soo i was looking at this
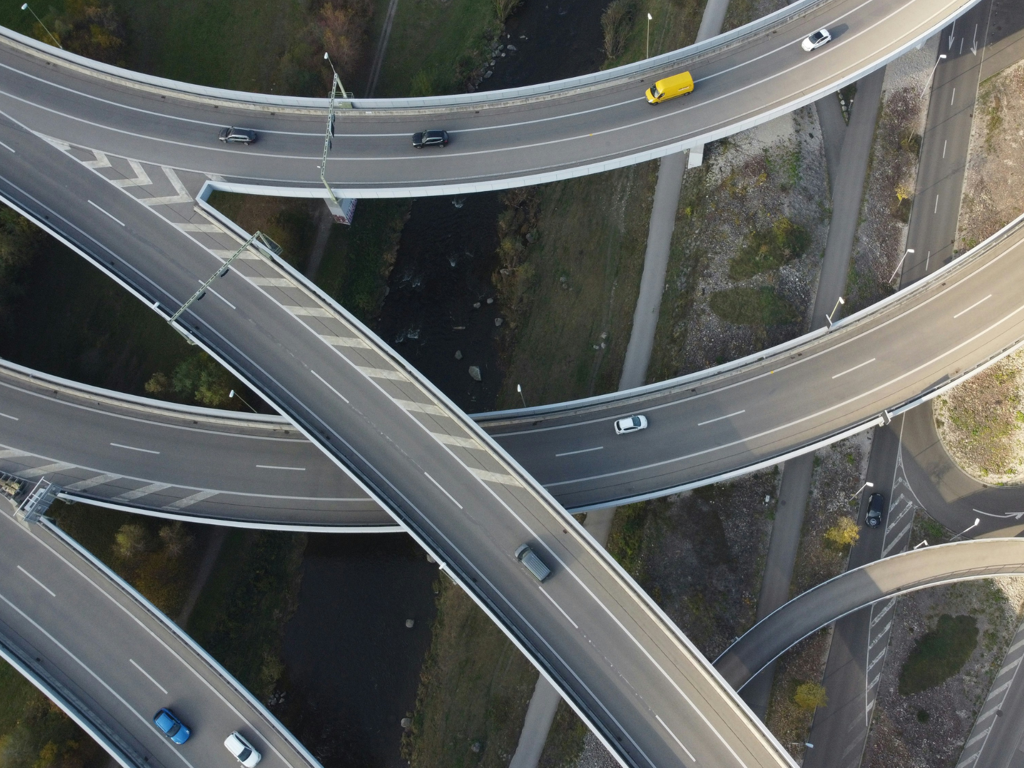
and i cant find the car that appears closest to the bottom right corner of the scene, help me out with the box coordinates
[866,493,884,528]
